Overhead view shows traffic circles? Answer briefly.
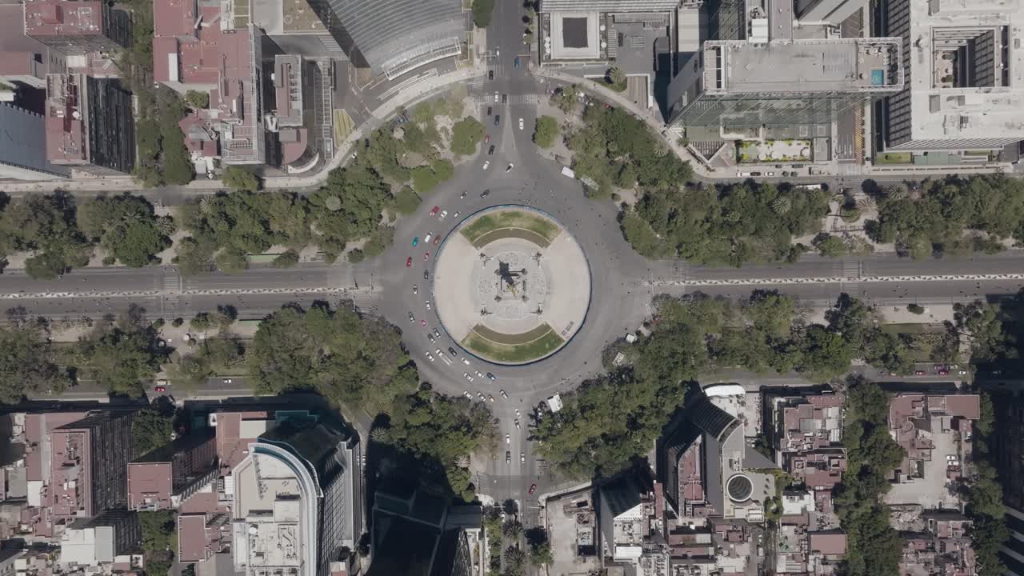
Yes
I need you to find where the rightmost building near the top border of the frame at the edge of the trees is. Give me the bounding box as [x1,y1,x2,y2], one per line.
[885,0,1024,152]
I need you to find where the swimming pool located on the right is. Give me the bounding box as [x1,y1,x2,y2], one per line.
[870,68,884,85]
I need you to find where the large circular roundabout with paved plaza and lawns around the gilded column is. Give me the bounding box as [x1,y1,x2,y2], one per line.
[391,164,633,405]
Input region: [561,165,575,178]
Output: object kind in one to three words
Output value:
vehicle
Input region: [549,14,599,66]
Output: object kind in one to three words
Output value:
building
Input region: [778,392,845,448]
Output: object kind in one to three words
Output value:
building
